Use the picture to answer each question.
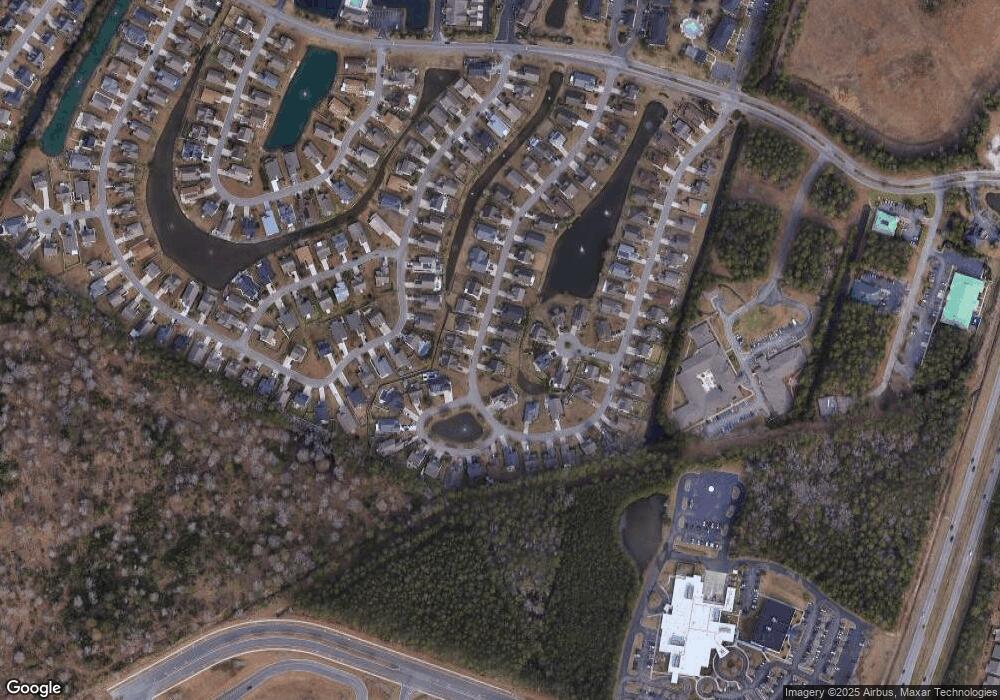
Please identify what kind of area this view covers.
residential area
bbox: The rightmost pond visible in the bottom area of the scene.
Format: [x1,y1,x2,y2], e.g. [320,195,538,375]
[620,494,667,561]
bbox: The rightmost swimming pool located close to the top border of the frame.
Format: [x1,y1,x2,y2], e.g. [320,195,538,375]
[682,20,702,37]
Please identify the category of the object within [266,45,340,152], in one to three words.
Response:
pond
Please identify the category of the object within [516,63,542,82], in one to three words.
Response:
house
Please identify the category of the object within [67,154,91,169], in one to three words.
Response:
house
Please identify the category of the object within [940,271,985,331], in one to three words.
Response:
building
